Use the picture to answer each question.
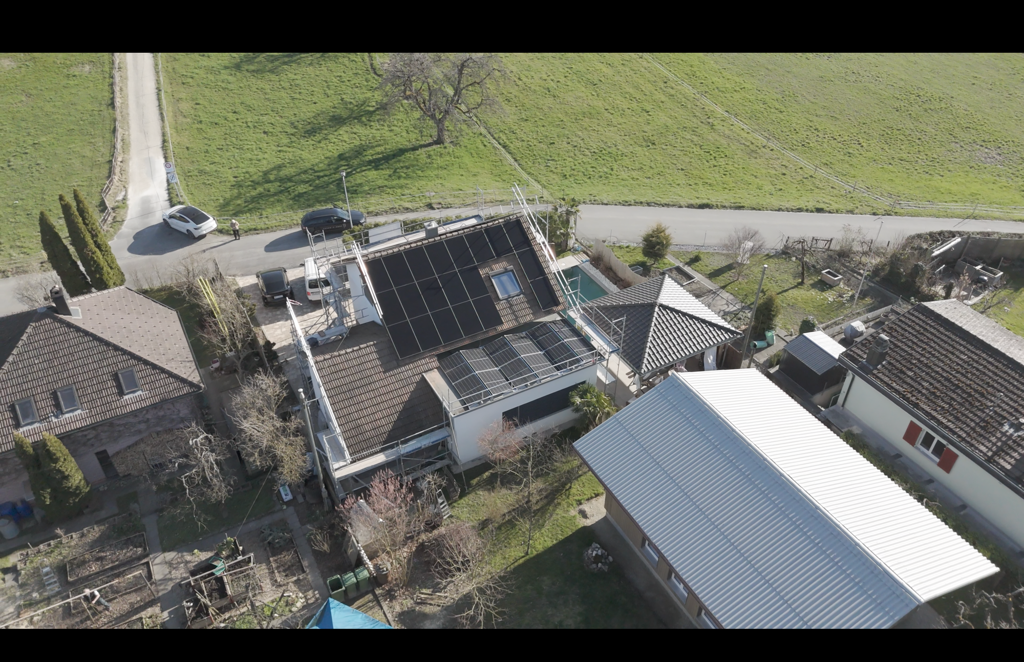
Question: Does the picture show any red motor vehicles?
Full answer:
No, the picture doesn't show any red motor vehicle.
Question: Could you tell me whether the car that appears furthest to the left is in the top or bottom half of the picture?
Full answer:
You can find the car that appears furthest to the left in the top half.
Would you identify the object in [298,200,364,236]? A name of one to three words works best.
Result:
car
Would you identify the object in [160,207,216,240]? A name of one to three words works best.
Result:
car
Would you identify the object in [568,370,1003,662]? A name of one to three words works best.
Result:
shed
